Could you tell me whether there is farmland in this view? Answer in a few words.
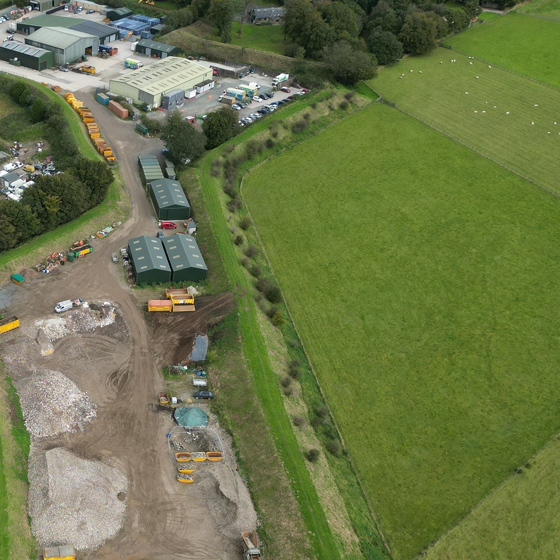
Yes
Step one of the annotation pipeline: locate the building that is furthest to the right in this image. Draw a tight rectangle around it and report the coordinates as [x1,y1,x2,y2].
[253,8,288,26]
